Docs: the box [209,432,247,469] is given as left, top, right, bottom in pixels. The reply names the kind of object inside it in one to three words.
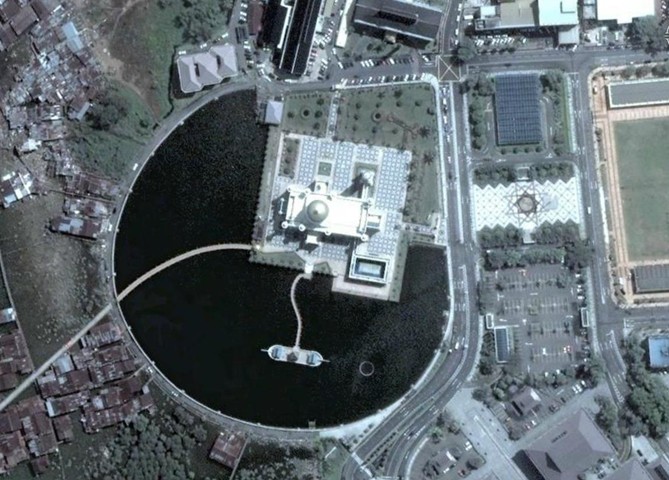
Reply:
house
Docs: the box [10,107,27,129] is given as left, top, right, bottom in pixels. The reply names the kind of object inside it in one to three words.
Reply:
shed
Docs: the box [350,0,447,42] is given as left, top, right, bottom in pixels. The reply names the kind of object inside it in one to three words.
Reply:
building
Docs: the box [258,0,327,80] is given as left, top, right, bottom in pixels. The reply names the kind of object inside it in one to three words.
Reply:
building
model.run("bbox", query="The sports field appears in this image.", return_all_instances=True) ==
[595,65,669,304]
